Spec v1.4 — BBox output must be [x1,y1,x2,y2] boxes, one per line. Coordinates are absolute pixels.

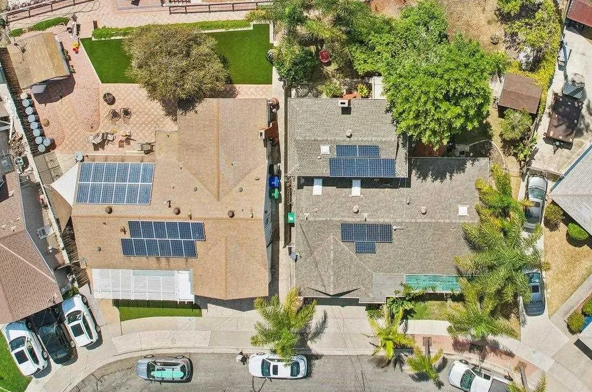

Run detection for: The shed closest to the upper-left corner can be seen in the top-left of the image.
[0,33,81,90]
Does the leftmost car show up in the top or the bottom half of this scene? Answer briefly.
bottom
